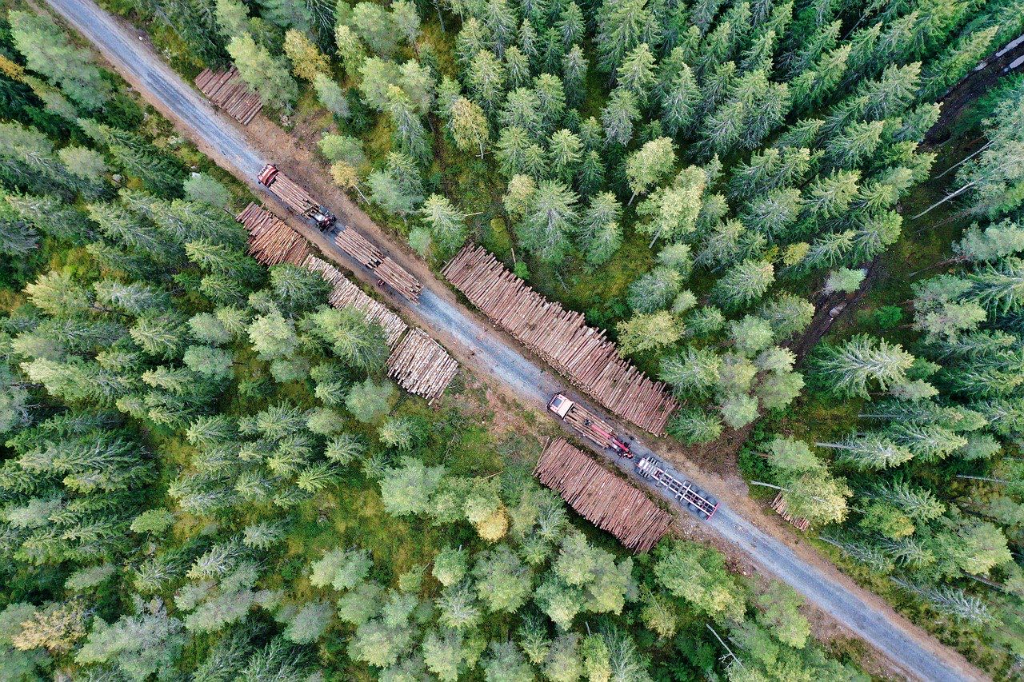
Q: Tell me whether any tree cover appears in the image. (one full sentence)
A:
Yes, there is tree cover in the image.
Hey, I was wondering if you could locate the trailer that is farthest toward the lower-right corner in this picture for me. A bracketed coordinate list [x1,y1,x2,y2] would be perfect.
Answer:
[630,457,726,526]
